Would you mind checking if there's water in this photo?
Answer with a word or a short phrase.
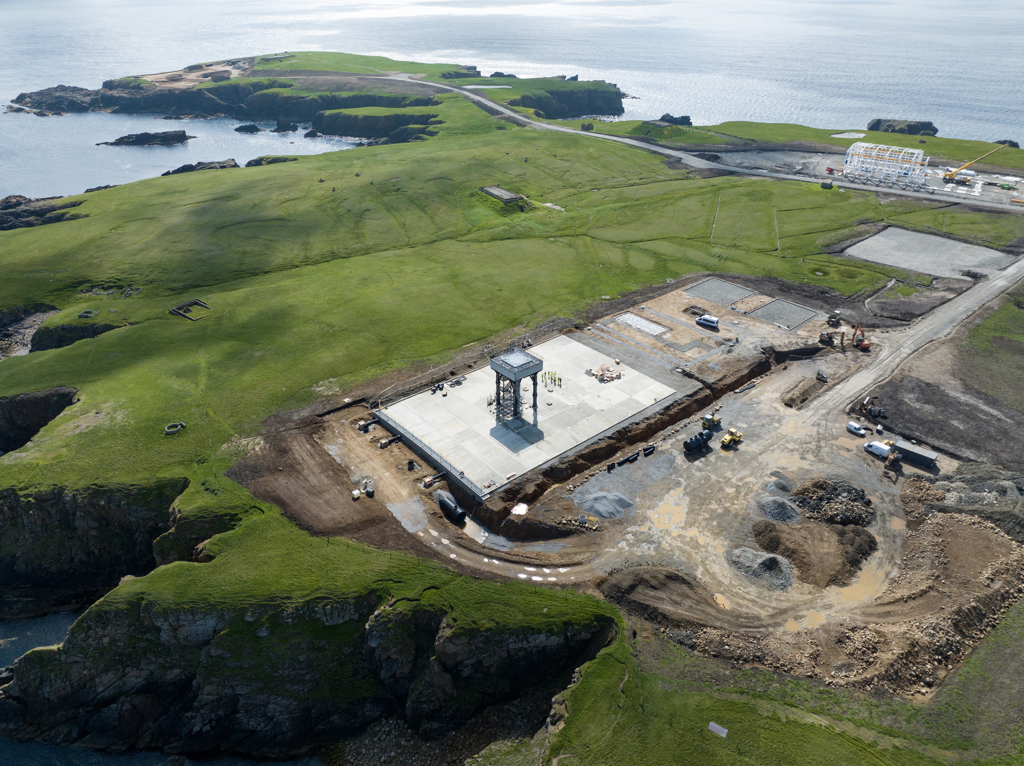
Yes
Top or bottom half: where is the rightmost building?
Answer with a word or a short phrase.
top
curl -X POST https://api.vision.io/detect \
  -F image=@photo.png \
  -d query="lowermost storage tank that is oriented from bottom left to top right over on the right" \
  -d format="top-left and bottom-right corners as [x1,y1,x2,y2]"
[681,430,716,460]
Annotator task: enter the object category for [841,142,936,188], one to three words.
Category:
building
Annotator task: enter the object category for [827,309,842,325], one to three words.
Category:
vehicle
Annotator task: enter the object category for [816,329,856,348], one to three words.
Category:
work vehicle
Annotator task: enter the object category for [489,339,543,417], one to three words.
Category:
water tower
